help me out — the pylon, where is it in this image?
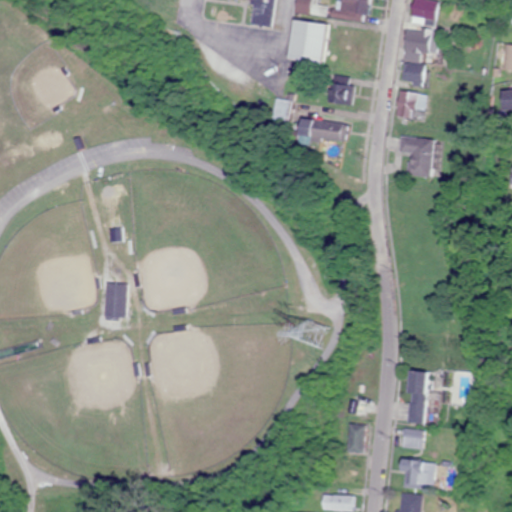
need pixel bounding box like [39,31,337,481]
[280,320,330,350]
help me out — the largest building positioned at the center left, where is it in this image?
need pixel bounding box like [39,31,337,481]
[106,282,128,321]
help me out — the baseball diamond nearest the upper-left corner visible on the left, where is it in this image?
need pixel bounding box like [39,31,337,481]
[10,41,79,128]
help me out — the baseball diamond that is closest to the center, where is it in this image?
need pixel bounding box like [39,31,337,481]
[130,168,288,314]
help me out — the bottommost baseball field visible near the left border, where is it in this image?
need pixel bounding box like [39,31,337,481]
[0,336,147,480]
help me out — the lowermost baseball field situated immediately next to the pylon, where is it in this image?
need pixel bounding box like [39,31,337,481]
[146,322,292,476]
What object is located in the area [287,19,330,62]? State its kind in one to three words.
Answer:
building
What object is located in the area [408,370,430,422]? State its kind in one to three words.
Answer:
house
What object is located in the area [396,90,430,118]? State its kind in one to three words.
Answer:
house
